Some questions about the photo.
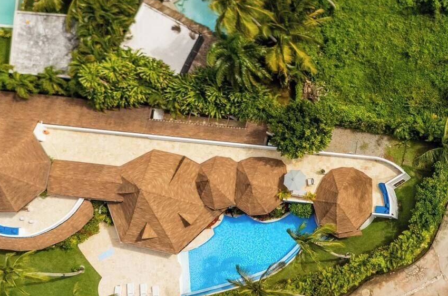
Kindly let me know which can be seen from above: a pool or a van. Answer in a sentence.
The image shows a pool.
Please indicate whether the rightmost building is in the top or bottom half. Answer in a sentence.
Seen from above, the rightmost building lies in the bottom half of the view.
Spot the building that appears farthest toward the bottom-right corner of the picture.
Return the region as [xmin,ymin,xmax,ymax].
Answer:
[313,166,376,238]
